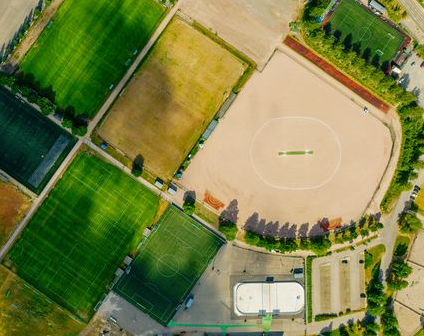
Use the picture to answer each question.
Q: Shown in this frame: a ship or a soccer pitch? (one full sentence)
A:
The image shows a soccer pitch.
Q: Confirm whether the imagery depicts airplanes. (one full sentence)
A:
No, there is no airplane in the image.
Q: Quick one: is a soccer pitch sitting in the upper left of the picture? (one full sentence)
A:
Yes, the scene does show a soccer pitch in the upper left of the picture.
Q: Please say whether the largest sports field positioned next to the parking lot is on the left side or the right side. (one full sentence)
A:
The largest sports field positioned next to the parking lot sits on the right side.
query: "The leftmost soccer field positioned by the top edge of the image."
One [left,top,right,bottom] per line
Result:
[20,0,165,119]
